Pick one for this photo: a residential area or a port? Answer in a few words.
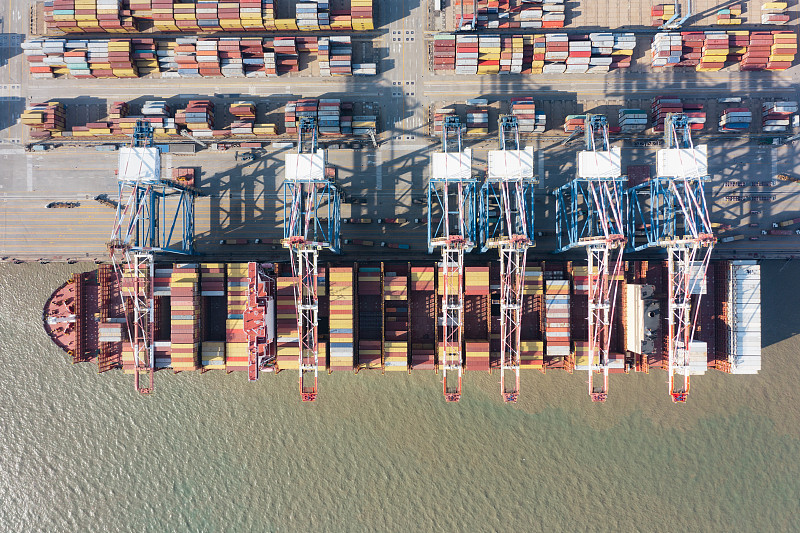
port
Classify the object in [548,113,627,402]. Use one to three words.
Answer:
container crane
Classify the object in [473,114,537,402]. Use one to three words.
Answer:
container crane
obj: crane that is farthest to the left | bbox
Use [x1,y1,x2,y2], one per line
[105,119,204,395]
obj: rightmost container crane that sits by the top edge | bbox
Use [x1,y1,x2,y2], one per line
[655,0,696,30]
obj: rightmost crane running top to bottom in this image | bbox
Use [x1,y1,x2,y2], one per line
[619,112,718,402]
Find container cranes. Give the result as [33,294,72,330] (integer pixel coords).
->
[281,116,345,402]
[655,0,696,30]
[473,114,537,402]
[619,112,718,402]
[548,113,627,402]
[423,114,477,402]
[105,119,204,395]
[457,0,479,31]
